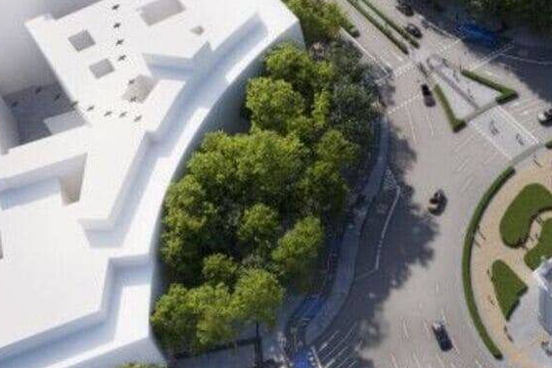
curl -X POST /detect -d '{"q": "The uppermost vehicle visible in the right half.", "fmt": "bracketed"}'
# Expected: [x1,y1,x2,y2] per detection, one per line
[397,0,411,13]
